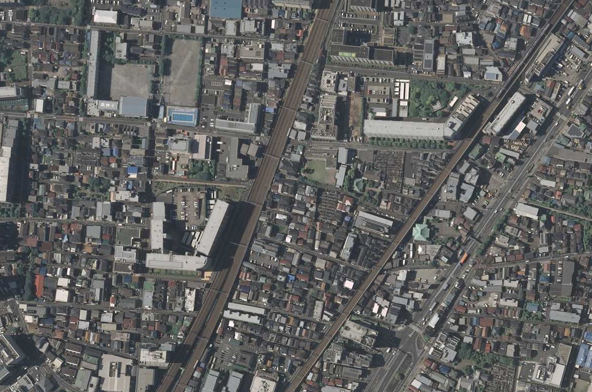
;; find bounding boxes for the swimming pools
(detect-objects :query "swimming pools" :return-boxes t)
[167,108,198,127]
